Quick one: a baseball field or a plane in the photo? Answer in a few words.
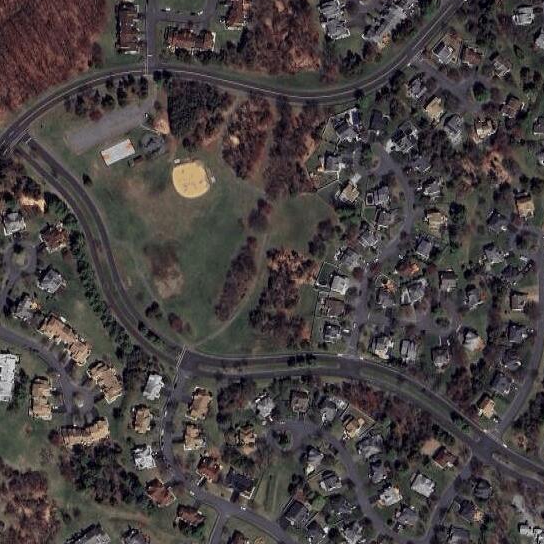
baseball field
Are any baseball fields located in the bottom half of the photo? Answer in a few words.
No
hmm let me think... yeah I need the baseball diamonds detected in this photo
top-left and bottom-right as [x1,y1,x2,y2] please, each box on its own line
[173,157,211,197]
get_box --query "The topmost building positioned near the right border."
[511,5,535,25]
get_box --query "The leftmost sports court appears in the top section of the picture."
[101,139,135,166]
